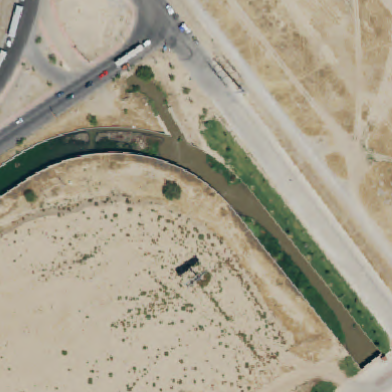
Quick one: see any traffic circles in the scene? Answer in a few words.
No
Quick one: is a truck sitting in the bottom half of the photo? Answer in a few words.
No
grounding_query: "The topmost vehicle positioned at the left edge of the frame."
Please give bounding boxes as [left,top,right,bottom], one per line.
[4,4,22,48]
